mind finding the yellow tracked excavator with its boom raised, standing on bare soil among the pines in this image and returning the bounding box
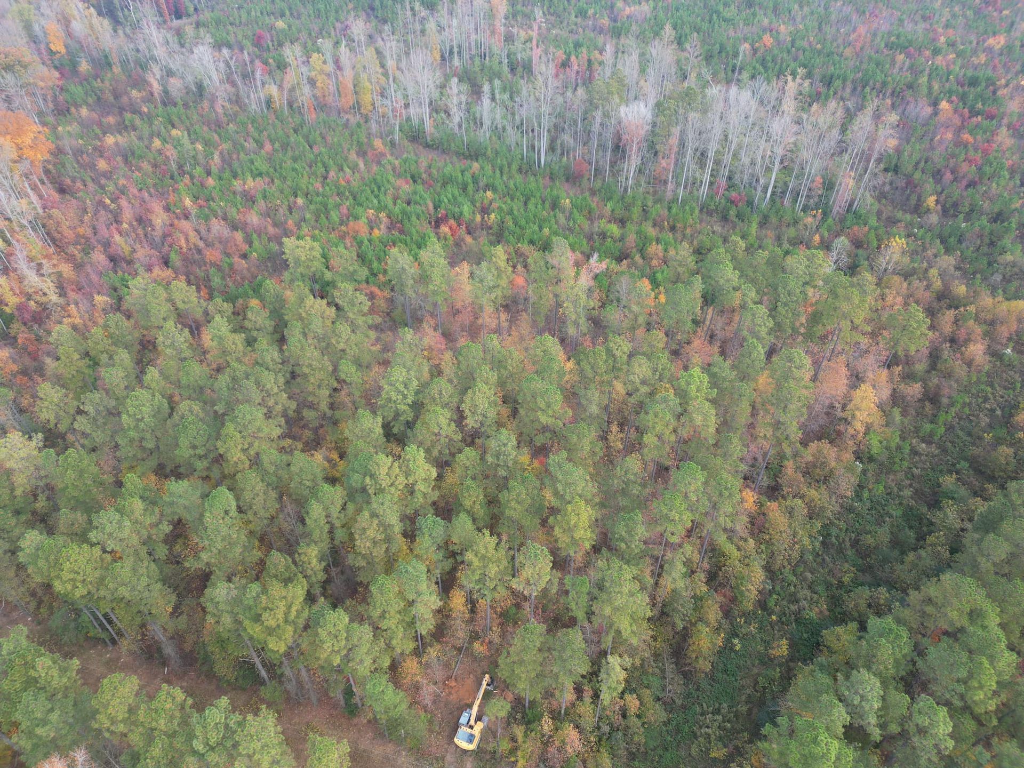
[453,672,500,757]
